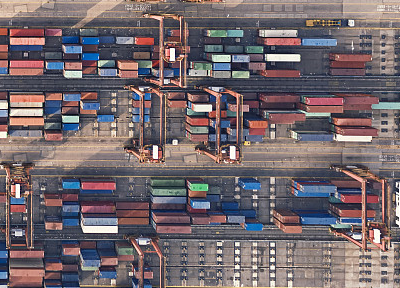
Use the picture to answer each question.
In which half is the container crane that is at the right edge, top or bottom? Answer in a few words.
bottom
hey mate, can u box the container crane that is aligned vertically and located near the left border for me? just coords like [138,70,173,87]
[0,165,38,248]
